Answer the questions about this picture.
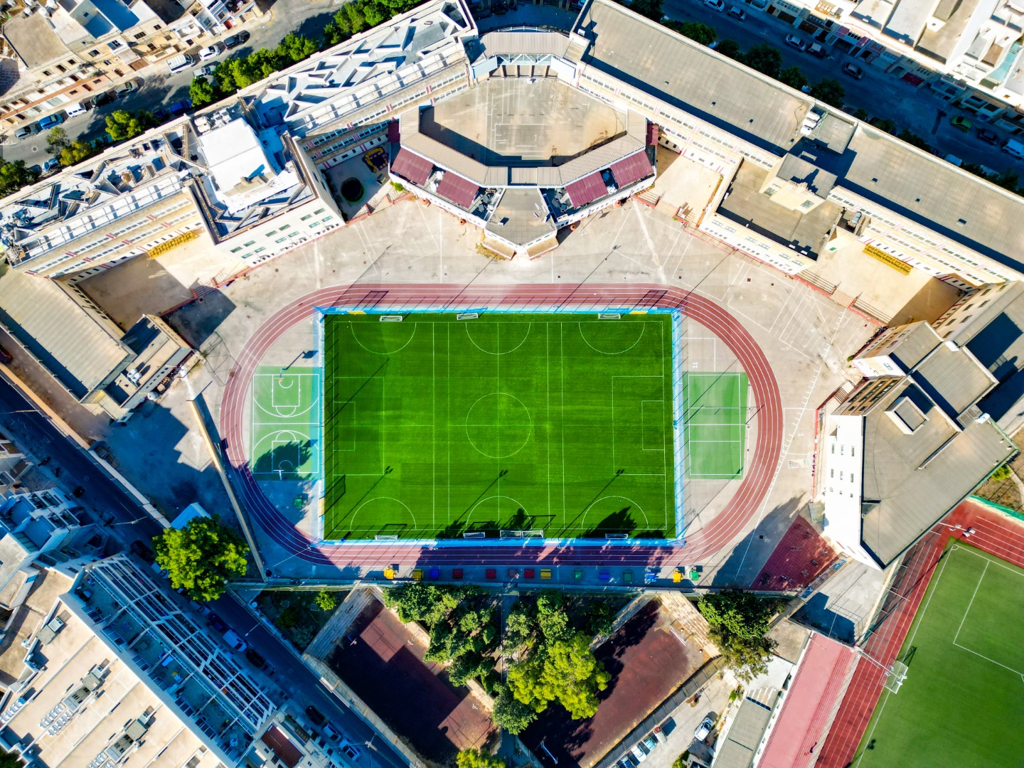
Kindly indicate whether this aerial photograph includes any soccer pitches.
Yes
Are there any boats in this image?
No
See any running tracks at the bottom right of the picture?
Yes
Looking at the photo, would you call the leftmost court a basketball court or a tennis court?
basketball court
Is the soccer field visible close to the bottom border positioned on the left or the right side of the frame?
right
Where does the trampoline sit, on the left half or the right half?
left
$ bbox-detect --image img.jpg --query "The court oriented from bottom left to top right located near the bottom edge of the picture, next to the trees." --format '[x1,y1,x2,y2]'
[518,601,709,768]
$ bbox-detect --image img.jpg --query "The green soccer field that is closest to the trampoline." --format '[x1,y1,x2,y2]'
[317,307,684,546]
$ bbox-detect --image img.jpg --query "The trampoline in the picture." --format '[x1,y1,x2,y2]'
[340,177,363,201]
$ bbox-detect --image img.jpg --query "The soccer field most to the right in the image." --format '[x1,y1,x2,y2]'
[849,538,1024,768]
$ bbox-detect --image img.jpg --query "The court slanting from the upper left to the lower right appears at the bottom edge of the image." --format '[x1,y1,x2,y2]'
[327,596,500,768]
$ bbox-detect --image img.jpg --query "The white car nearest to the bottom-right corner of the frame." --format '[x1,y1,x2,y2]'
[694,715,716,742]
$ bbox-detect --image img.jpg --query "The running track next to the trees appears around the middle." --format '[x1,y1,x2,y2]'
[222,284,784,566]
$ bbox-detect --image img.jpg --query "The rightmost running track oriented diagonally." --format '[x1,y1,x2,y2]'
[815,499,1024,768]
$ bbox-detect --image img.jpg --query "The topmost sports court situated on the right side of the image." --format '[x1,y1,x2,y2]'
[684,372,748,480]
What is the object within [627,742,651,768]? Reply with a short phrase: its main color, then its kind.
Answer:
white car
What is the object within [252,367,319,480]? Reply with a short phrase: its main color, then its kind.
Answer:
green basketball court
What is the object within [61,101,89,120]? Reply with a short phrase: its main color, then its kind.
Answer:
white vehicle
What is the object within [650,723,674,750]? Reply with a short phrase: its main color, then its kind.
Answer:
white truck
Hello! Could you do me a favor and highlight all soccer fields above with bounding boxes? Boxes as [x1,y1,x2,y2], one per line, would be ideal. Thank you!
[317,307,684,546]
[849,538,1024,768]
